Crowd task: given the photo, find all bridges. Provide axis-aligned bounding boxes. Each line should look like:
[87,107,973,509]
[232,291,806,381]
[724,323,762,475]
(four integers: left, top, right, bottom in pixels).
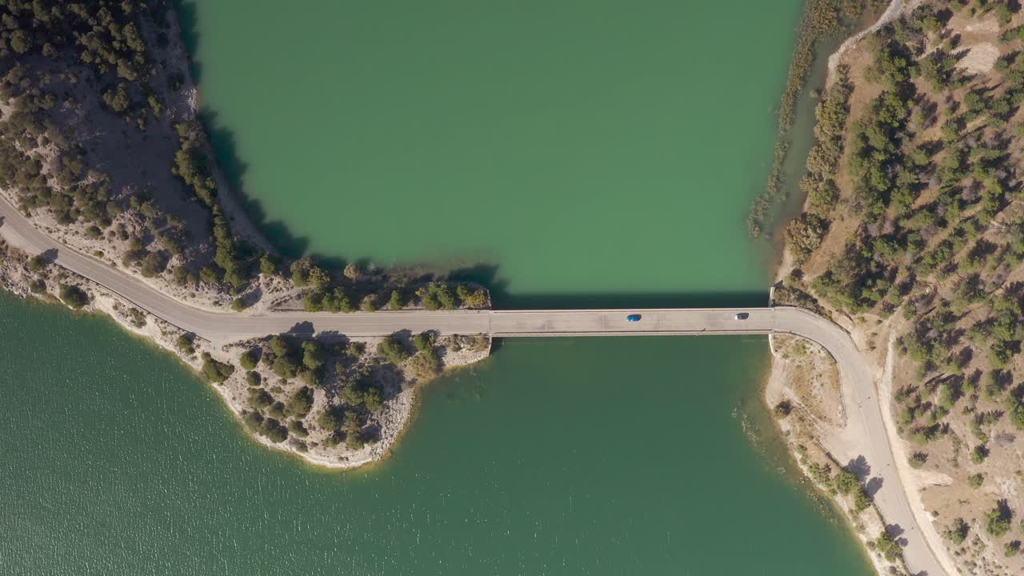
[487,307,775,337]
